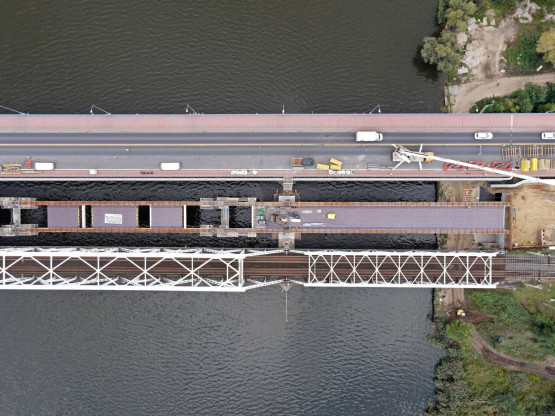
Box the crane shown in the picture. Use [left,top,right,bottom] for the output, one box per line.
[389,143,555,186]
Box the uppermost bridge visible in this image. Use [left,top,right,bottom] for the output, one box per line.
[0,112,555,181]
